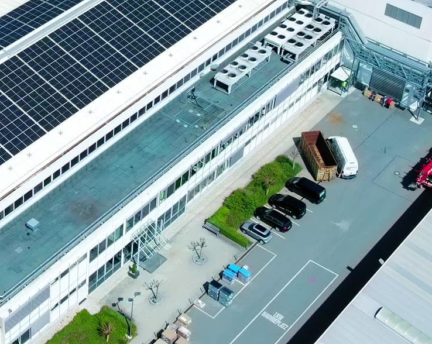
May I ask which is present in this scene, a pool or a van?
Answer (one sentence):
The one in the frame is a van.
